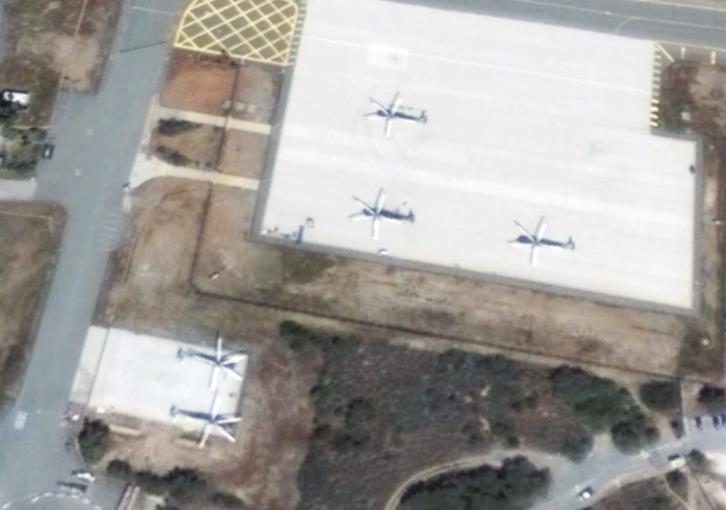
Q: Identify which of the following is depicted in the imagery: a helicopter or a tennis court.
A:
helicopter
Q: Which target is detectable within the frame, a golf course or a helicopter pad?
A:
helicopter pad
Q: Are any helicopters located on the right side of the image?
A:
Yes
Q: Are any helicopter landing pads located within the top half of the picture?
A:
No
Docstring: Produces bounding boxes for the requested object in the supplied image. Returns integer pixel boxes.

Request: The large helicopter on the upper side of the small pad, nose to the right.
[177,334,247,391]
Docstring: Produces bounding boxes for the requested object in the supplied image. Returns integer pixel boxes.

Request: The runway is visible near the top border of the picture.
[391,0,726,52]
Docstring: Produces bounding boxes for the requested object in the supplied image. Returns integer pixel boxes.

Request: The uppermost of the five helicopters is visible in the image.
[368,92,428,138]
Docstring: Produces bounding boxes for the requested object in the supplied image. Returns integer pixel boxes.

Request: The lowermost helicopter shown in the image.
[170,393,240,448]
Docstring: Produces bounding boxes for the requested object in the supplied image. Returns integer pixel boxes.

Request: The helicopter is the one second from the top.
[352,192,412,238]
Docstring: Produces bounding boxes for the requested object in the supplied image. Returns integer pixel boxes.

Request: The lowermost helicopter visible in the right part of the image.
[512,220,571,267]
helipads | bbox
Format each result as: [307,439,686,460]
[70,326,250,433]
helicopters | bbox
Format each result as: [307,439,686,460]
[368,92,428,138]
[352,192,412,238]
[177,334,247,391]
[512,220,571,267]
[170,393,240,448]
